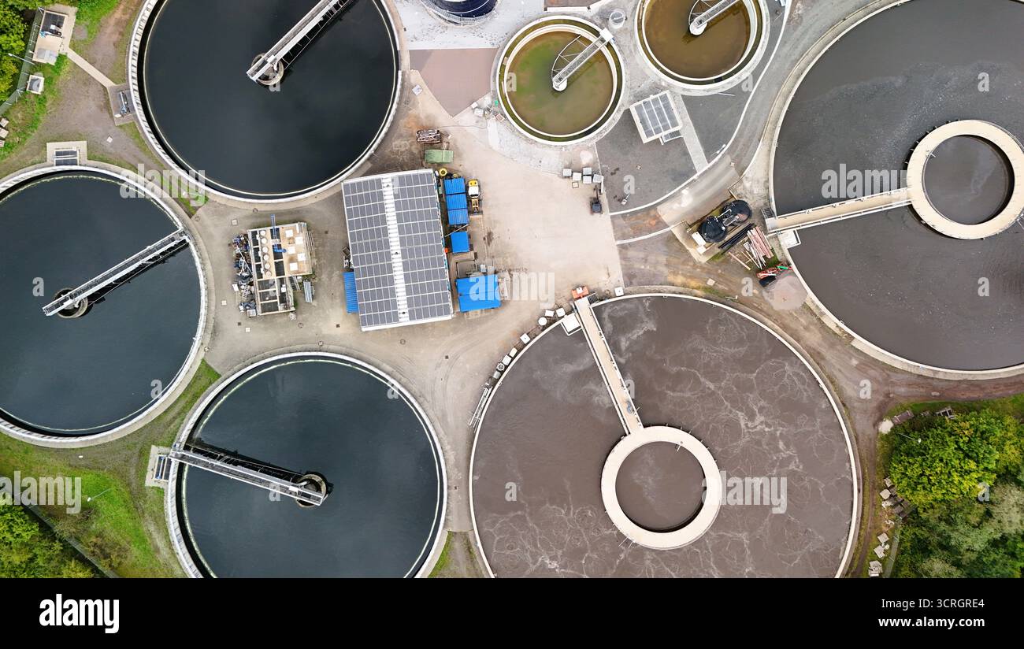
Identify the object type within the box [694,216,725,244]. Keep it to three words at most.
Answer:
storage tank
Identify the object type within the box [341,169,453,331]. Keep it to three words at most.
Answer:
shed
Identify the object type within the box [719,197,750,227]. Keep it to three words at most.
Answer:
storage tank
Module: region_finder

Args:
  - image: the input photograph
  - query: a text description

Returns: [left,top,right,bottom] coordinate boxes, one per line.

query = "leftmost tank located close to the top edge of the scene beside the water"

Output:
[129,0,403,204]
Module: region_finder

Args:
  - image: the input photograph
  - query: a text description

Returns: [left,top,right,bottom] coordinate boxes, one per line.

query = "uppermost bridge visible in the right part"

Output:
[689,0,742,36]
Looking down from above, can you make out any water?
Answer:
Yes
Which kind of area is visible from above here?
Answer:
industrial area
